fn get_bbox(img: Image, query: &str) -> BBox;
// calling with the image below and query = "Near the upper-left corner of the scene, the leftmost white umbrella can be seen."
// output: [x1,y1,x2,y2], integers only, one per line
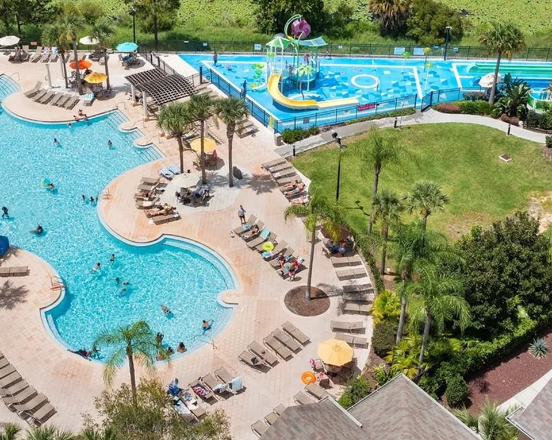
[0,37,19,65]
